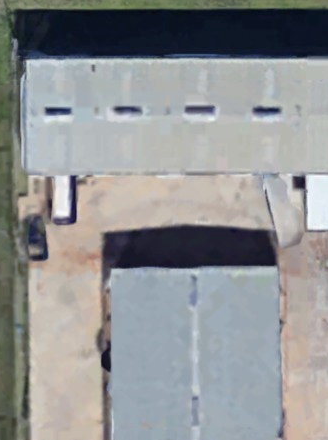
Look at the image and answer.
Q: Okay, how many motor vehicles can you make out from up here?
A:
2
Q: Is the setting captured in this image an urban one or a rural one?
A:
urban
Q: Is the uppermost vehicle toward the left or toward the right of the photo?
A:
left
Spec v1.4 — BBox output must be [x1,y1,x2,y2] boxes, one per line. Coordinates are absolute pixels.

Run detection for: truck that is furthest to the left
[25,217,48,260]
